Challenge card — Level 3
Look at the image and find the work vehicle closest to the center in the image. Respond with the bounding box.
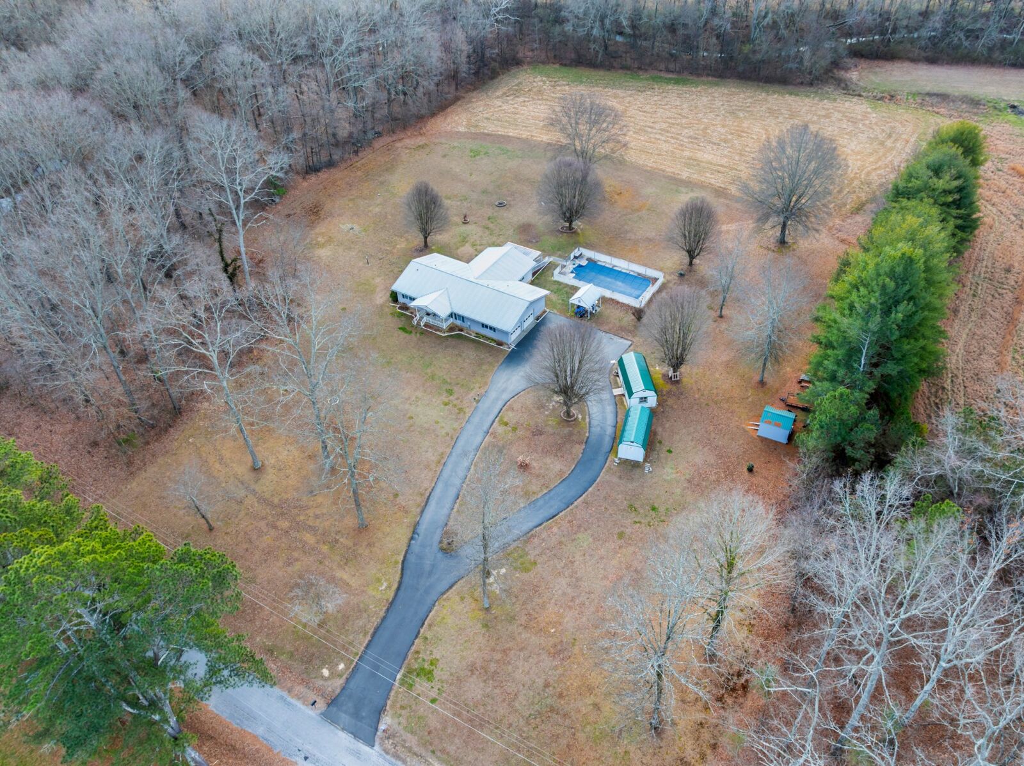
[575,304,587,319]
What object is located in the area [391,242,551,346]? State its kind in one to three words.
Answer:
house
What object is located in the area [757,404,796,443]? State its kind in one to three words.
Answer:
shed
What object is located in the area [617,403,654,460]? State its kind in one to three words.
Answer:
shed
